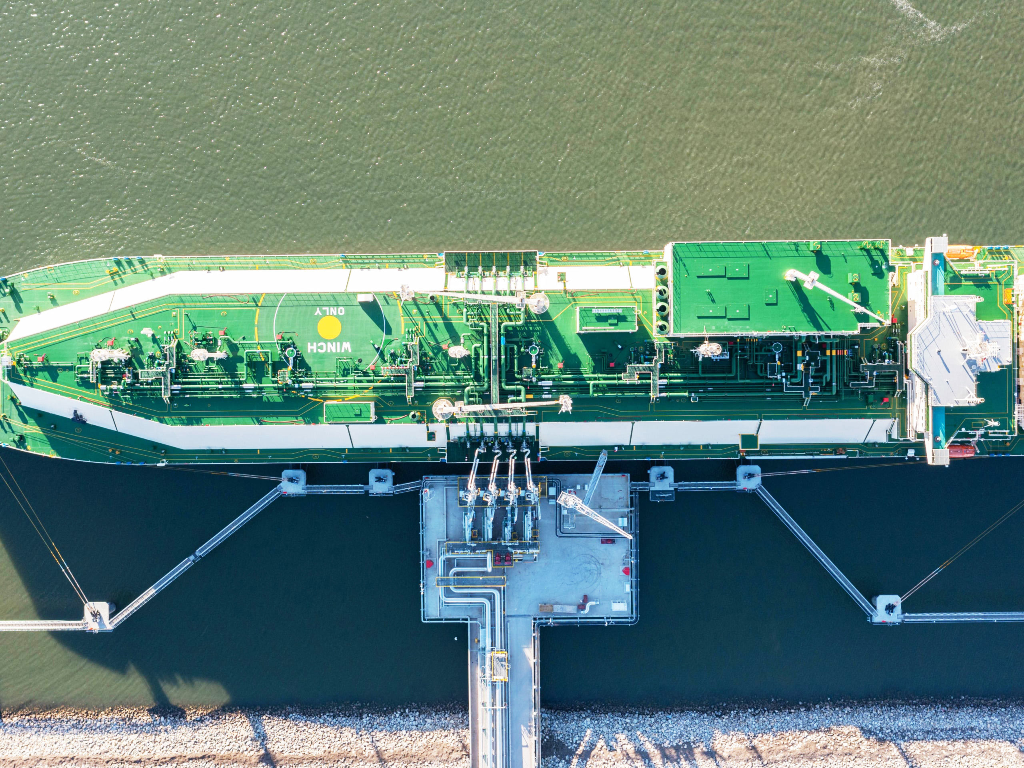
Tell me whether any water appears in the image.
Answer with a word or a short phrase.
Yes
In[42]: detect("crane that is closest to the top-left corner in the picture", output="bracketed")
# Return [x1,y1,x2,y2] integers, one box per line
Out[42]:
[416,291,550,317]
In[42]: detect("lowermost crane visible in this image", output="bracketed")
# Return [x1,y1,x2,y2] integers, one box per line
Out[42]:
[552,485,632,539]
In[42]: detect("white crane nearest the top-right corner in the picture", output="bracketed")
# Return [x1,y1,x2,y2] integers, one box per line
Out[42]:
[782,270,891,327]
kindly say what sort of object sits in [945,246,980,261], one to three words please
boat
